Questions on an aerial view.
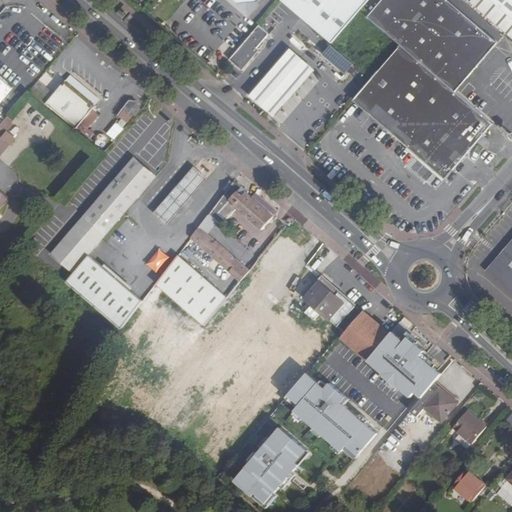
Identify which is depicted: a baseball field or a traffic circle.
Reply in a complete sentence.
I can see a traffic circle in this picture.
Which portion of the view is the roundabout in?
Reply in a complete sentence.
You can find the roundabout in the right area of the picture.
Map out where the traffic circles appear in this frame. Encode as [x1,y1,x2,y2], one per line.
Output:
[388,240,461,311]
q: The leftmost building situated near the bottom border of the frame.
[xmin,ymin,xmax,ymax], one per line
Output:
[232,427,308,507]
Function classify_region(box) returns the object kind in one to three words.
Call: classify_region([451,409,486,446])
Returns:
house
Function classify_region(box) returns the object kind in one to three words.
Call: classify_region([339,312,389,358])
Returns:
house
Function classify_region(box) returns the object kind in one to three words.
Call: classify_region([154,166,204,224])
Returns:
building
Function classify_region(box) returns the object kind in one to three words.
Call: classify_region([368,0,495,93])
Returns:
building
